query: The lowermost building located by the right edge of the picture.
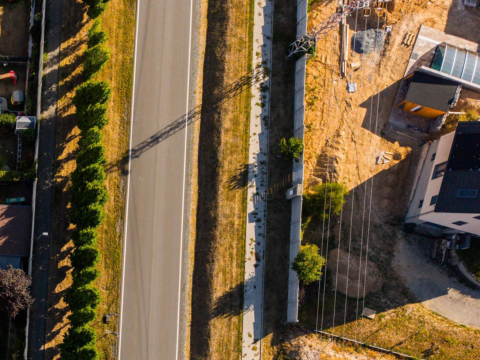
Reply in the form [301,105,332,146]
[389,120,480,240]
